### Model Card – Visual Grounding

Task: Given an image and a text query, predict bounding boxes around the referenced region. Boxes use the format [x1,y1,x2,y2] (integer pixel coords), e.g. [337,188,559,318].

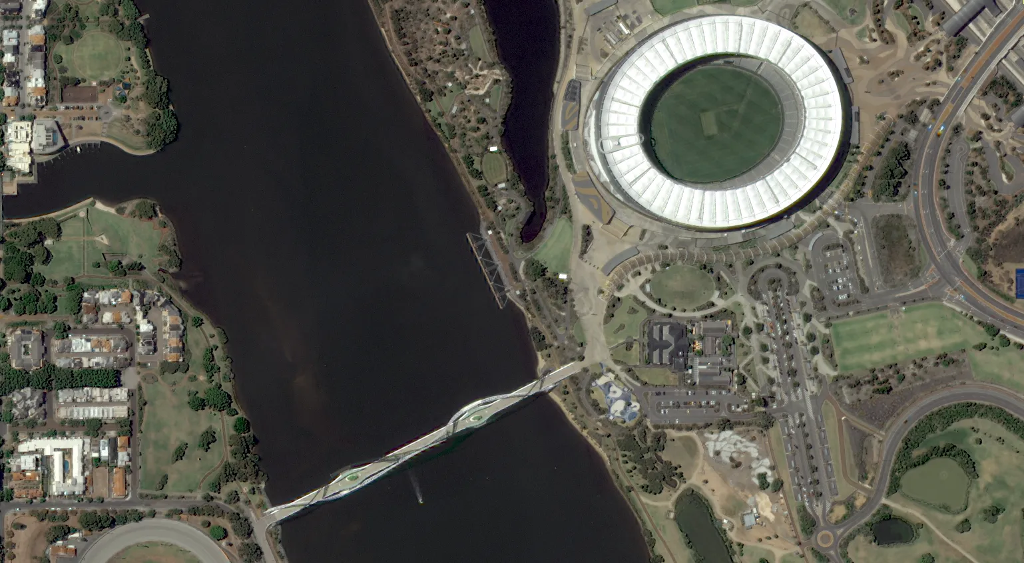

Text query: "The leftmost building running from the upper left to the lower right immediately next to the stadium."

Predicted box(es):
[572,170,615,224]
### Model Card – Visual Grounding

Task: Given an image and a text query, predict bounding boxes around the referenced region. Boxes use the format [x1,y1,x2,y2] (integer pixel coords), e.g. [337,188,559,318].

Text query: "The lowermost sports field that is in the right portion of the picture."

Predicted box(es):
[651,264,715,312]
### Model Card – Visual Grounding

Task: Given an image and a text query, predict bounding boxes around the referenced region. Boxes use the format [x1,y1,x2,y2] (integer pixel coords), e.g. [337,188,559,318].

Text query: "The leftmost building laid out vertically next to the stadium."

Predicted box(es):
[561,79,581,130]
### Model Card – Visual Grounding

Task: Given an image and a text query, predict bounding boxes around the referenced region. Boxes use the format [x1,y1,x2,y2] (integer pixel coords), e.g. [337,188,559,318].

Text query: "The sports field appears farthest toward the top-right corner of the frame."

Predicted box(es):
[652,66,781,182]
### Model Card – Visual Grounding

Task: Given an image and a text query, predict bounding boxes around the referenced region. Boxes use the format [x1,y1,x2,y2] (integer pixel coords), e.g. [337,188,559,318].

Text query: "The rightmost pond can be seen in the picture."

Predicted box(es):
[901,458,971,513]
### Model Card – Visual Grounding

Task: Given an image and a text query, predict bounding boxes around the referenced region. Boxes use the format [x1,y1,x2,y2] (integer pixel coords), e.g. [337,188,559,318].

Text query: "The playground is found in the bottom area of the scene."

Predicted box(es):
[595,363,641,422]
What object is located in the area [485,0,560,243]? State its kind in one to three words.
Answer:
pond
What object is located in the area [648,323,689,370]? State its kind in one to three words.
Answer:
building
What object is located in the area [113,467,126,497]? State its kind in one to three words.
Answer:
house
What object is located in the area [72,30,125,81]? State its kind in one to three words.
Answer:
sports field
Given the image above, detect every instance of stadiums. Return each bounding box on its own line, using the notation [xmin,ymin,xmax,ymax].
[595,15,842,228]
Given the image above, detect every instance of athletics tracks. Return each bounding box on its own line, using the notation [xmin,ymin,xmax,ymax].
[76,514,233,563]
